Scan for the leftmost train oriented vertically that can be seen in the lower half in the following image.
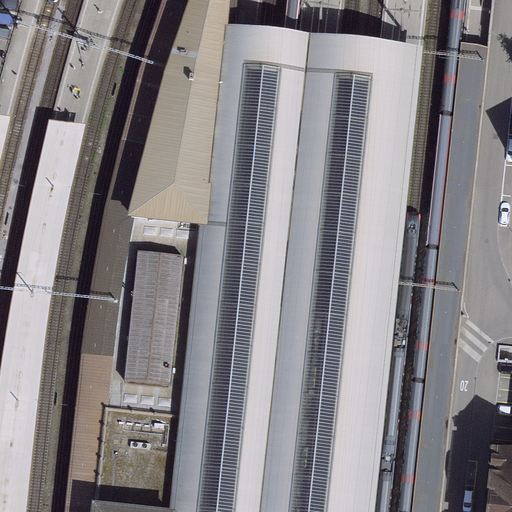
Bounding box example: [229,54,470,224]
[377,210,421,512]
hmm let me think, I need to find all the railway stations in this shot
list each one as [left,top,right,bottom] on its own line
[170,24,424,512]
